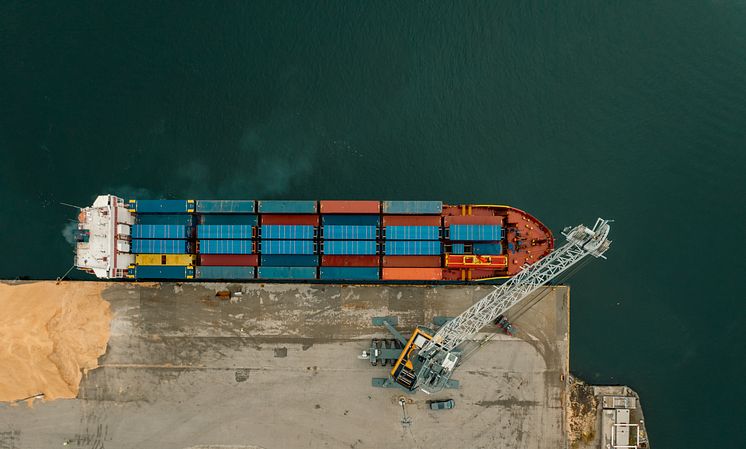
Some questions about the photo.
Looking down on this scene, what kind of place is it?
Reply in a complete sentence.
This looks like a port.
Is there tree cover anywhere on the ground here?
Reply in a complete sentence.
No, no tree cover is visible.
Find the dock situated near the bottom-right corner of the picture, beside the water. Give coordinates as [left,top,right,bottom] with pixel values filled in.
[590,383,650,449]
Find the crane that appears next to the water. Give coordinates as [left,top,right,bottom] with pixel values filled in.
[358,216,616,396]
